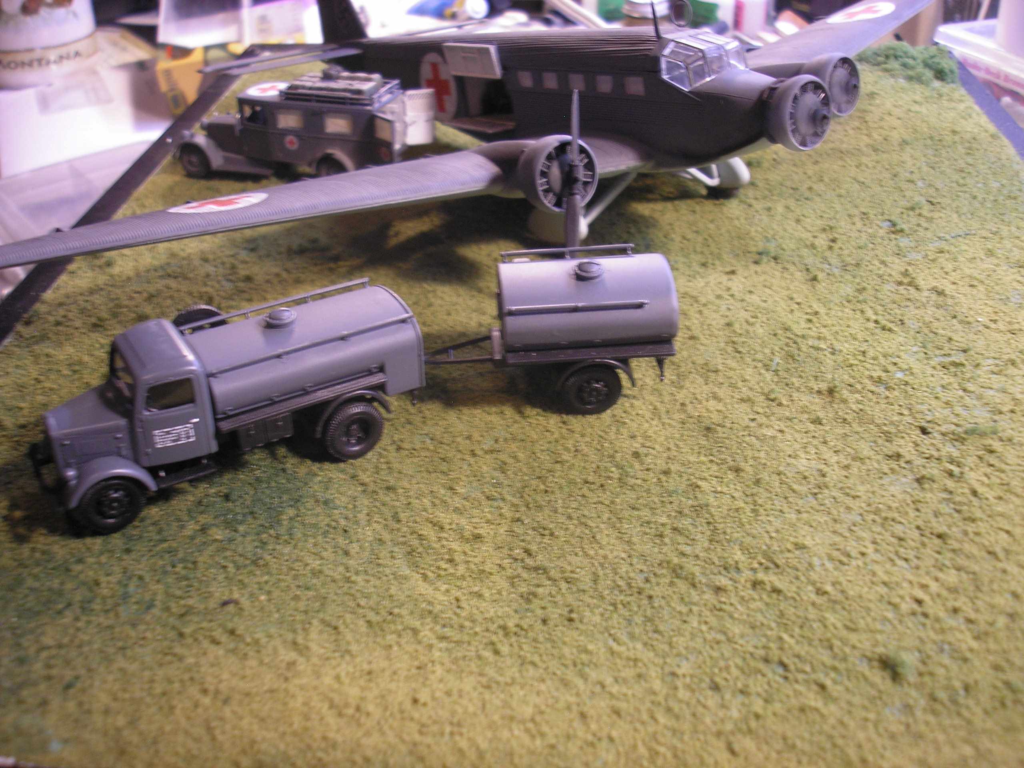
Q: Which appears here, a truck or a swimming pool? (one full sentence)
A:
Looking from above, you can make out a truck.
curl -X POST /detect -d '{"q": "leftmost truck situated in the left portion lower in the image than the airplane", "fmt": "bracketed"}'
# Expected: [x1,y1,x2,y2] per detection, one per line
[22,278,424,531]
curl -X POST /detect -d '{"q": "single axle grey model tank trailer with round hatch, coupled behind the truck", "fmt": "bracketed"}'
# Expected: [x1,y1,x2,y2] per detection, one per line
[423,245,679,414]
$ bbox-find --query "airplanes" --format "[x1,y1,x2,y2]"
[0,0,940,271]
